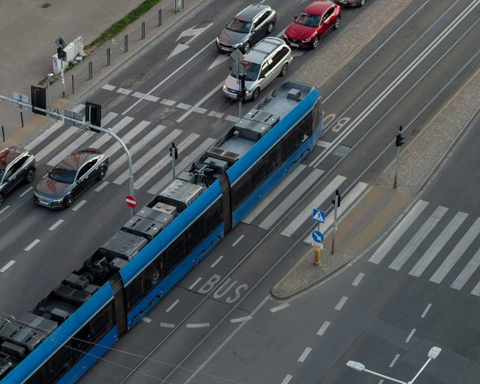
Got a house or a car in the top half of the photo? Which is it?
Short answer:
car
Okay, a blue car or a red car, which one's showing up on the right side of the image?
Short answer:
red car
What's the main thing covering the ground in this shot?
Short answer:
paved ground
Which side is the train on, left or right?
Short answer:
left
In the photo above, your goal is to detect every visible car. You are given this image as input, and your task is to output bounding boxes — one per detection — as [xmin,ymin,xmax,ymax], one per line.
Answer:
[217,1,280,50]
[33,147,112,207]
[284,0,346,48]
[220,37,295,100]
[0,146,39,207]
